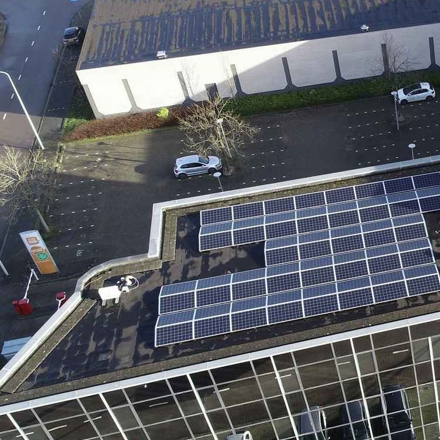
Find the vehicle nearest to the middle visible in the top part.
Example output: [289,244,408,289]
[170,150,221,175]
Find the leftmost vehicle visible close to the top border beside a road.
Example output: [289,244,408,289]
[61,22,82,42]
